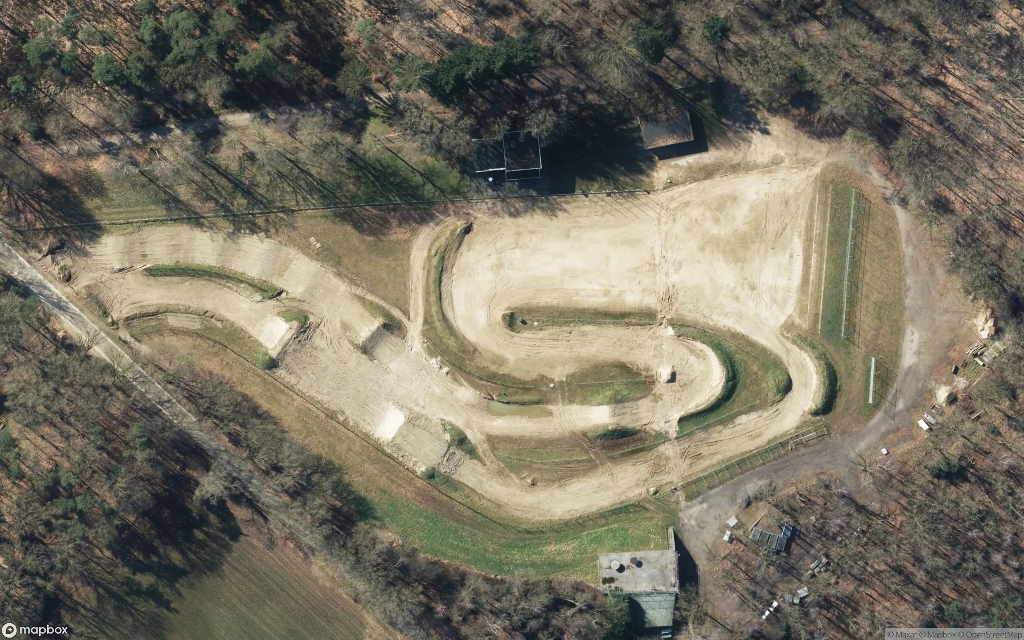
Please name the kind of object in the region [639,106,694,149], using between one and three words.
shed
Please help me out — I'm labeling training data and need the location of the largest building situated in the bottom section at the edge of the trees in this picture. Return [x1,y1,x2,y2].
[599,526,682,628]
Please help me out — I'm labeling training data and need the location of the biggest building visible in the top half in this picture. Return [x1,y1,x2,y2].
[472,130,542,180]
